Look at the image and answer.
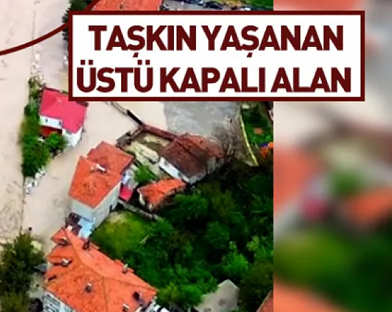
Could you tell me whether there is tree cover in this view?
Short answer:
Yes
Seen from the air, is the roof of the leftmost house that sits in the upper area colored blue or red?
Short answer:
red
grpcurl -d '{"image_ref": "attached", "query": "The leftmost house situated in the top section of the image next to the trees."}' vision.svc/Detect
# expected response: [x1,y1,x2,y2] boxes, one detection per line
[41,93,98,151]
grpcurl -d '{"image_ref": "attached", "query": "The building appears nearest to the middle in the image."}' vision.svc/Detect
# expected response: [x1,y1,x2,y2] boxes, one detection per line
[159,136,227,180]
